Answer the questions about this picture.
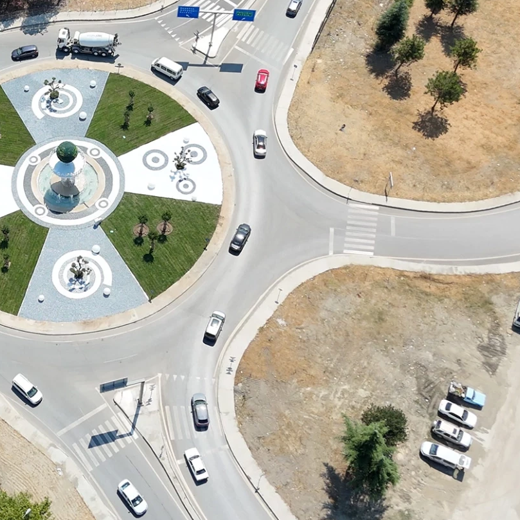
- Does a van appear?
Yes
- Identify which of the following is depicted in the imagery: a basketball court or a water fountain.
water fountain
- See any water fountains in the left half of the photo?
Yes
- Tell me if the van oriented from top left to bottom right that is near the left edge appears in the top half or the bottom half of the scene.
bottom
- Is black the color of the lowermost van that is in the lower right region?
No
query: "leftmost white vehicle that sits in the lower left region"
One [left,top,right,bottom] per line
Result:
[8,371,46,408]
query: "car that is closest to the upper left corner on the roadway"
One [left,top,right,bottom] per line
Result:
[10,44,39,61]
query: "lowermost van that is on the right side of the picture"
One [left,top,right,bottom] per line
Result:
[415,439,484,474]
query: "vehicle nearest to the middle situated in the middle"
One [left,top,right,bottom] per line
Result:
[228,223,251,255]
